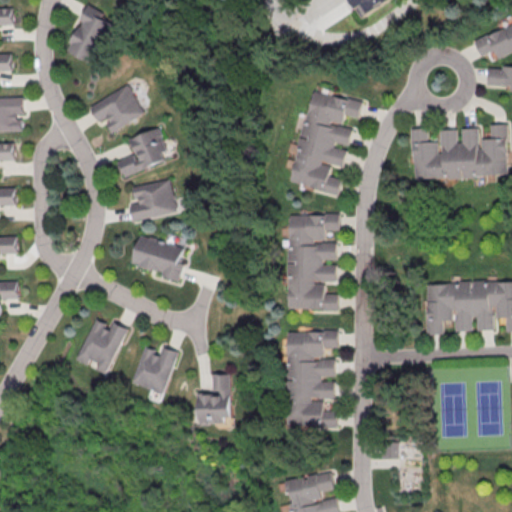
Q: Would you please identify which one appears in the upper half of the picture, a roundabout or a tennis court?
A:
roundabout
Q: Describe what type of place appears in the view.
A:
residential area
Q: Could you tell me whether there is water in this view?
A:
No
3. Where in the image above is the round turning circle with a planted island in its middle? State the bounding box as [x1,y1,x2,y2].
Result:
[409,47,476,114]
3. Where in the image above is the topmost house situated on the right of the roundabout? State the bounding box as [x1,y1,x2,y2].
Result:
[474,20,512,60]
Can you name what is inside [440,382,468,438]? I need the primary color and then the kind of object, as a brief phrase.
blue tennis court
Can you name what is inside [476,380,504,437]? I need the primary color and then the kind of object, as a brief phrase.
blue tennis court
